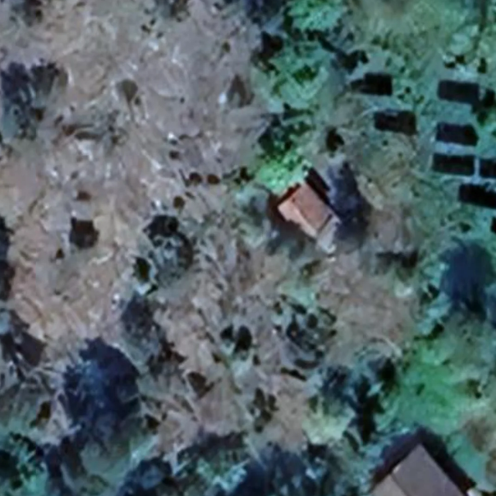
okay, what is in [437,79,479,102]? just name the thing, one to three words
solar array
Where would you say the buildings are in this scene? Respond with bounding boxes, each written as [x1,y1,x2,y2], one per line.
[370,444,464,496]
[278,183,334,237]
